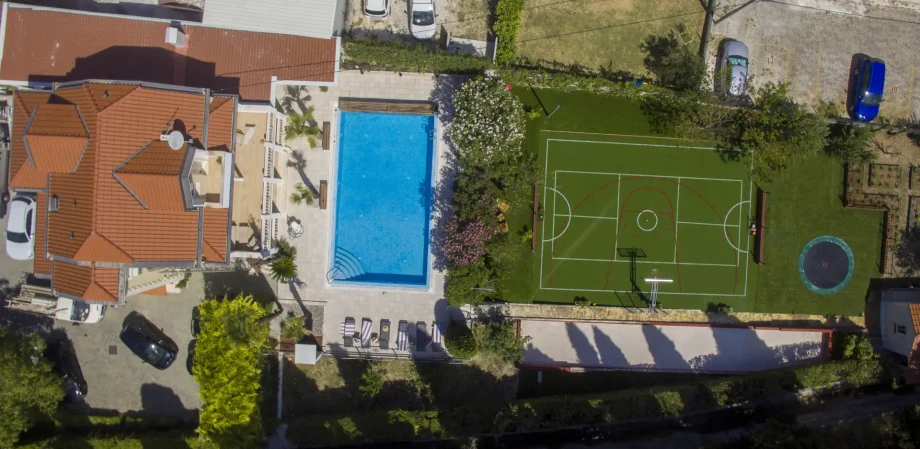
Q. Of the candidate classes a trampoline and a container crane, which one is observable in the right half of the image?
trampoline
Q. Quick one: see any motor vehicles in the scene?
Yes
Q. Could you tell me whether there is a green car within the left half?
No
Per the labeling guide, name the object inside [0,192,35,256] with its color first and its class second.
white car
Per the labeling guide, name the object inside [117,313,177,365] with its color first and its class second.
black car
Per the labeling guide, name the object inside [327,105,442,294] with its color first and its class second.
blue swimming pool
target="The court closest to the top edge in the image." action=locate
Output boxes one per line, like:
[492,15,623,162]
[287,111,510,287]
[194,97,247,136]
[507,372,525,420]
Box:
[455,82,887,318]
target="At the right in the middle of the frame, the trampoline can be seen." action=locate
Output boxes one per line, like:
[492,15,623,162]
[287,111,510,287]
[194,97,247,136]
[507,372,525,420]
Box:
[797,237,854,293]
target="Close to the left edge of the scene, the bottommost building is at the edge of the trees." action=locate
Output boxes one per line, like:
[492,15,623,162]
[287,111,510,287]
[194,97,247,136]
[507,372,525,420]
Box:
[4,79,298,306]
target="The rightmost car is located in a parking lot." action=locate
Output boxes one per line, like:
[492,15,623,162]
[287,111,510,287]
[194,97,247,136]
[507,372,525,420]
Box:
[848,55,889,119]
